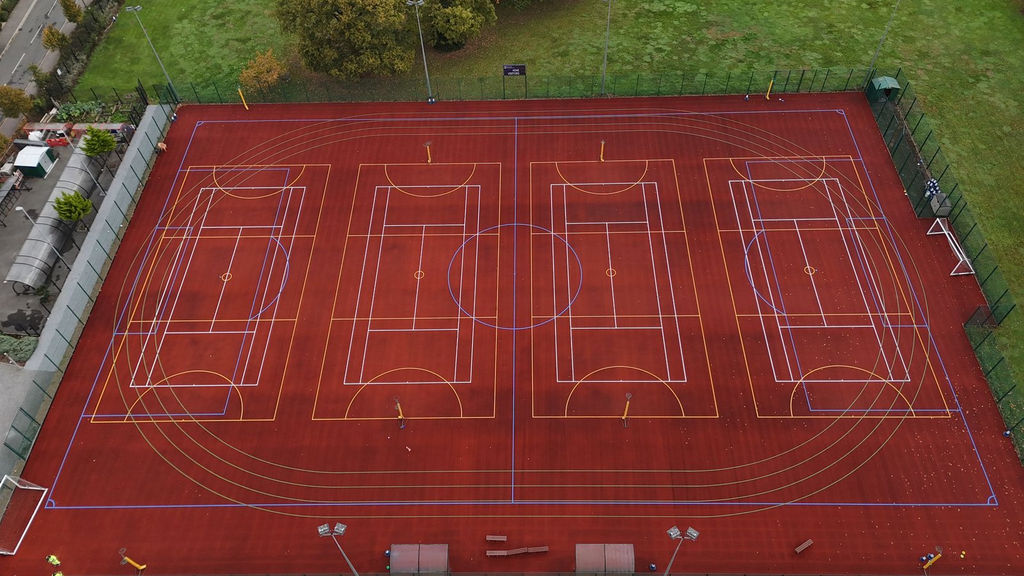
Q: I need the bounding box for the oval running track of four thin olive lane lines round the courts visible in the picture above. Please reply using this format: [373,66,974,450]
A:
[113,109,930,518]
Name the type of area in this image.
sports ground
